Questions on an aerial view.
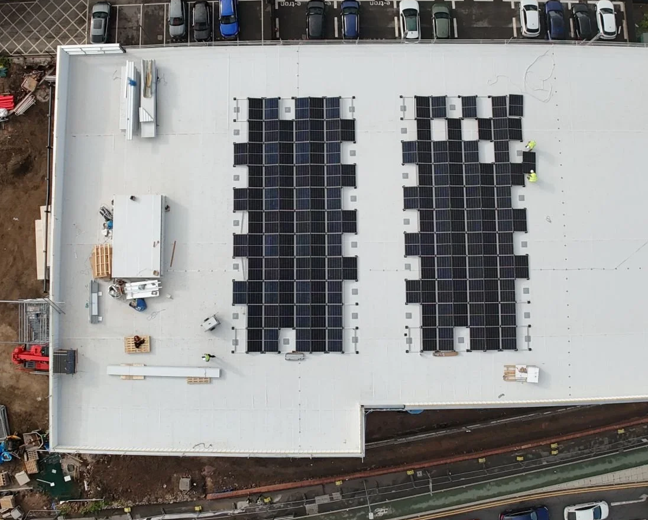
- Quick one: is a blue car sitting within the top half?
Yes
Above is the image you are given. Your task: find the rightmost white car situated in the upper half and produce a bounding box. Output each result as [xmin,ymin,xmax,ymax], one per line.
[595,0,617,39]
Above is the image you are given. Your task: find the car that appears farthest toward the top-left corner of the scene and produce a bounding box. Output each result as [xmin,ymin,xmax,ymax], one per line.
[89,1,111,44]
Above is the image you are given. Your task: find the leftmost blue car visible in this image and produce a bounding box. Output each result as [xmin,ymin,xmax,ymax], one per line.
[216,0,240,38]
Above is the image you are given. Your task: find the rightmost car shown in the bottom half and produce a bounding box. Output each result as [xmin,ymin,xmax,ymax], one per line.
[563,499,609,520]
